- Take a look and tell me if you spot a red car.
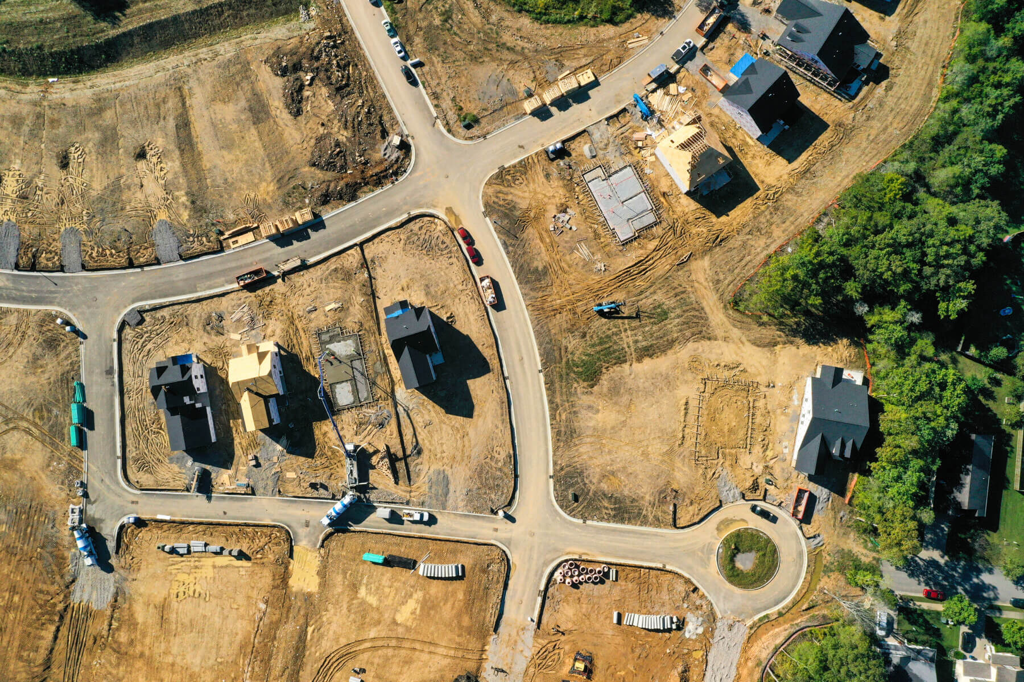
Yes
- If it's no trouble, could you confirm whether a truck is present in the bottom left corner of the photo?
Yes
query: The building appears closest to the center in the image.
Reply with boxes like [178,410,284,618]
[384,298,446,390]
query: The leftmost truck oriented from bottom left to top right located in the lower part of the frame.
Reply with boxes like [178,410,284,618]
[316,488,358,532]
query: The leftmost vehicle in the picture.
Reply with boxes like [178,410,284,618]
[65,514,97,566]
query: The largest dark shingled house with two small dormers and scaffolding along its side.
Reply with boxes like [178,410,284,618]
[772,0,883,95]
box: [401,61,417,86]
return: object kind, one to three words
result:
car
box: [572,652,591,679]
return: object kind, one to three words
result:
work vehicle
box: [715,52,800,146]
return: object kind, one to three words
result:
house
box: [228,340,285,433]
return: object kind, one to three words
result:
house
